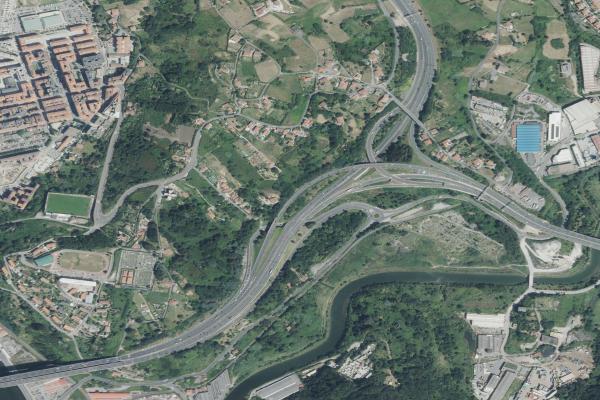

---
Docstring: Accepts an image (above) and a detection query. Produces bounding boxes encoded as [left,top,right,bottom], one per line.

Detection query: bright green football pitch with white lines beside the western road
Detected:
[45,192,93,217]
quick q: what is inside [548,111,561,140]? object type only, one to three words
building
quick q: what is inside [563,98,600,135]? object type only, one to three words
building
